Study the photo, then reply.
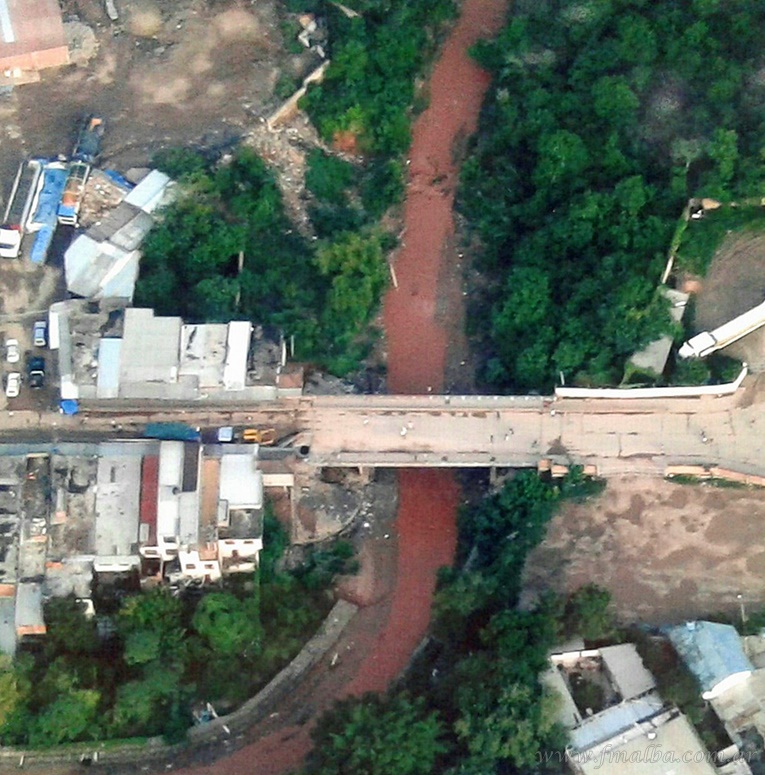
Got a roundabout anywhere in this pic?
No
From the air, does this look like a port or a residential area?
residential area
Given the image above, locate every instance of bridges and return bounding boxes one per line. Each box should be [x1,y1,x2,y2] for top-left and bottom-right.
[300,394,560,480]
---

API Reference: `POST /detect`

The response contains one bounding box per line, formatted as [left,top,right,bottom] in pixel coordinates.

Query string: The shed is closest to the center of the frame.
[278,363,304,397]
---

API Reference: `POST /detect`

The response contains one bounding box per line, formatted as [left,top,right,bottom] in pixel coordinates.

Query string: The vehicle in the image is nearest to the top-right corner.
[679,307,765,372]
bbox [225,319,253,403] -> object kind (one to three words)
house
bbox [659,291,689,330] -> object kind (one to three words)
shed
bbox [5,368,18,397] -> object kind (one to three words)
vehicle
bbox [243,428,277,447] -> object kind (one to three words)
work vehicle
